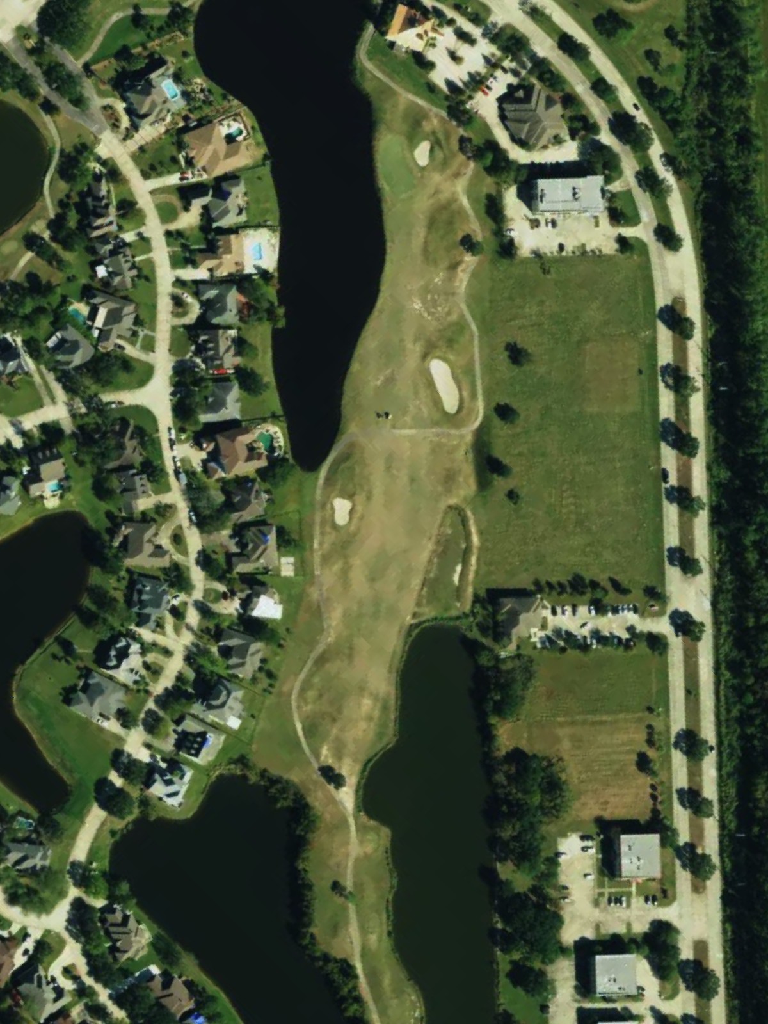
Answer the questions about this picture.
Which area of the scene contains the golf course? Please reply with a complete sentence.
Look in the center portion of the view to spot the golf course.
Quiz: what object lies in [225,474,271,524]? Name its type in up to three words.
house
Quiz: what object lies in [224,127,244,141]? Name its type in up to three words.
swimming pool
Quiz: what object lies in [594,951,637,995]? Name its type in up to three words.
building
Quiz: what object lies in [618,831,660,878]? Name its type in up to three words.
building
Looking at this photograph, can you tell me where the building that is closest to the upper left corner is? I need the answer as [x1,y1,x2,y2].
[121,70,171,132]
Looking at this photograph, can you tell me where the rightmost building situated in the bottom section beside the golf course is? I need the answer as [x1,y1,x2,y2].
[493,594,547,648]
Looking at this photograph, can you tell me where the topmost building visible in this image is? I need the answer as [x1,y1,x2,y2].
[386,1,438,40]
